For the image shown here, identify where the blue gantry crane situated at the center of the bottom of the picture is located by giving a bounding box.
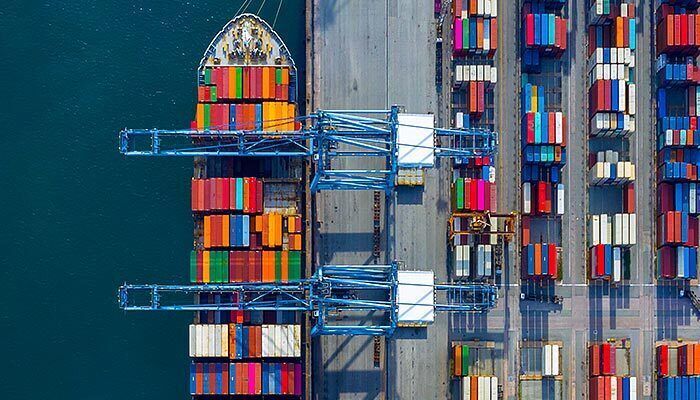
[117,261,498,346]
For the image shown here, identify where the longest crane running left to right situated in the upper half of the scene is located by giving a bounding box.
[117,105,498,210]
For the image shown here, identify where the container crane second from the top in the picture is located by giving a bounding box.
[448,205,516,250]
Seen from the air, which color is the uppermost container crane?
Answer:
blue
